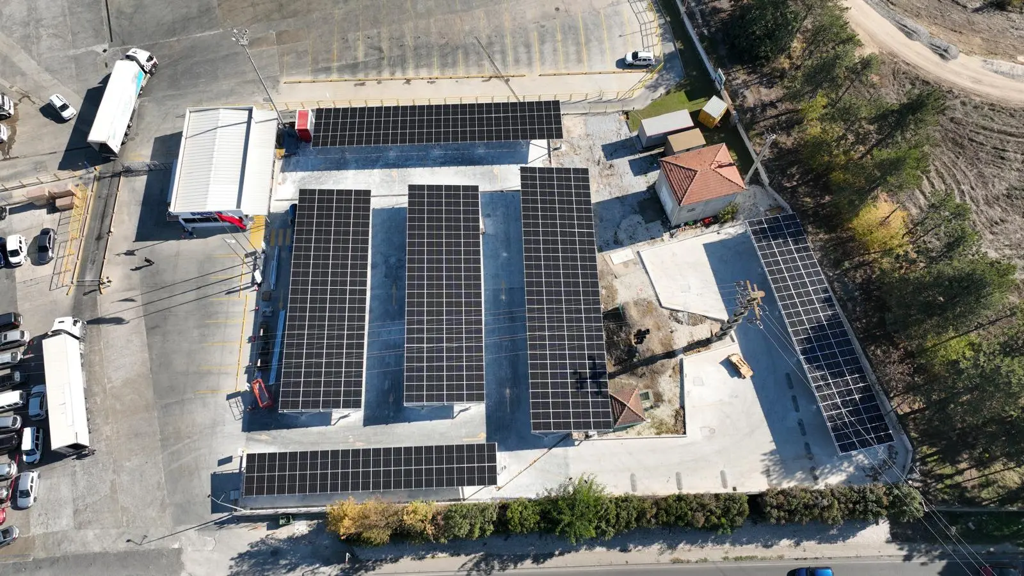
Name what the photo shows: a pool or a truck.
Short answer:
truck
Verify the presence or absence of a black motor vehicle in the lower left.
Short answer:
Yes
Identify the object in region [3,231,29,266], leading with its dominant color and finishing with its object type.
white vehicle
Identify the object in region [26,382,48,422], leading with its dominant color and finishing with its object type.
blue car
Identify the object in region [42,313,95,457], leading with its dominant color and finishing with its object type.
white truck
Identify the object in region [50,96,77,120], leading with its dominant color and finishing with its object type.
white car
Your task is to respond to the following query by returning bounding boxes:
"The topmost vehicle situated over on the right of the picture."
[624,50,656,67]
